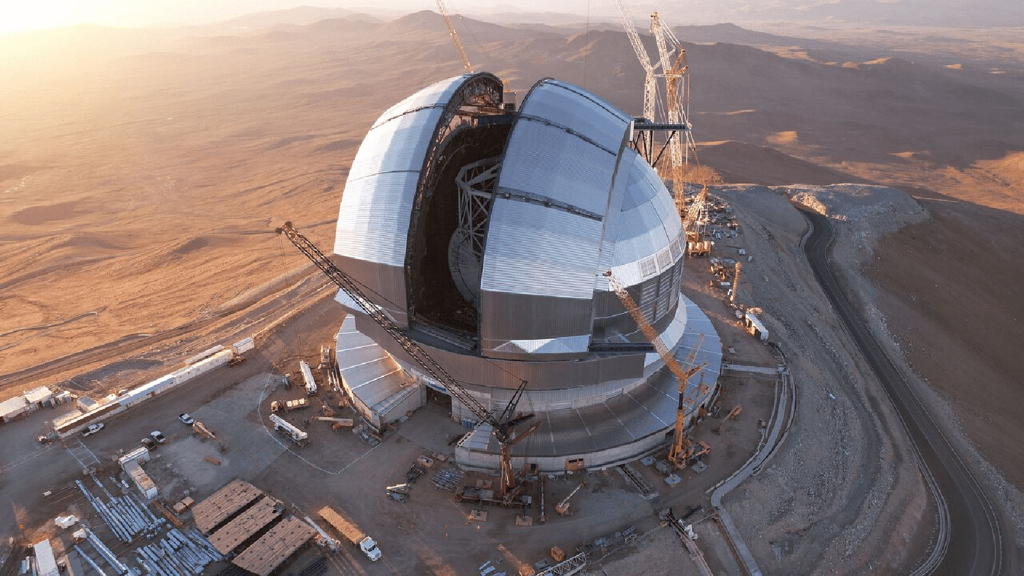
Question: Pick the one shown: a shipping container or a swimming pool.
shipping container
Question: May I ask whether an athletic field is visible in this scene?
No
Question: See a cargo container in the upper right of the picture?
No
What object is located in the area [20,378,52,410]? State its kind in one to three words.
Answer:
shed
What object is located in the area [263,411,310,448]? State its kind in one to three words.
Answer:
crane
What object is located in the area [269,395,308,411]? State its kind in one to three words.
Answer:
vehicle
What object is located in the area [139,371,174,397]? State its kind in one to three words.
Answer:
building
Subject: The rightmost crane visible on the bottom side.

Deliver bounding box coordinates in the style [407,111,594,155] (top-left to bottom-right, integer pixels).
[598,268,716,479]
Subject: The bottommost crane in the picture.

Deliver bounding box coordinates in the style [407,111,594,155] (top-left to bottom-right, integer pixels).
[287,494,339,552]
